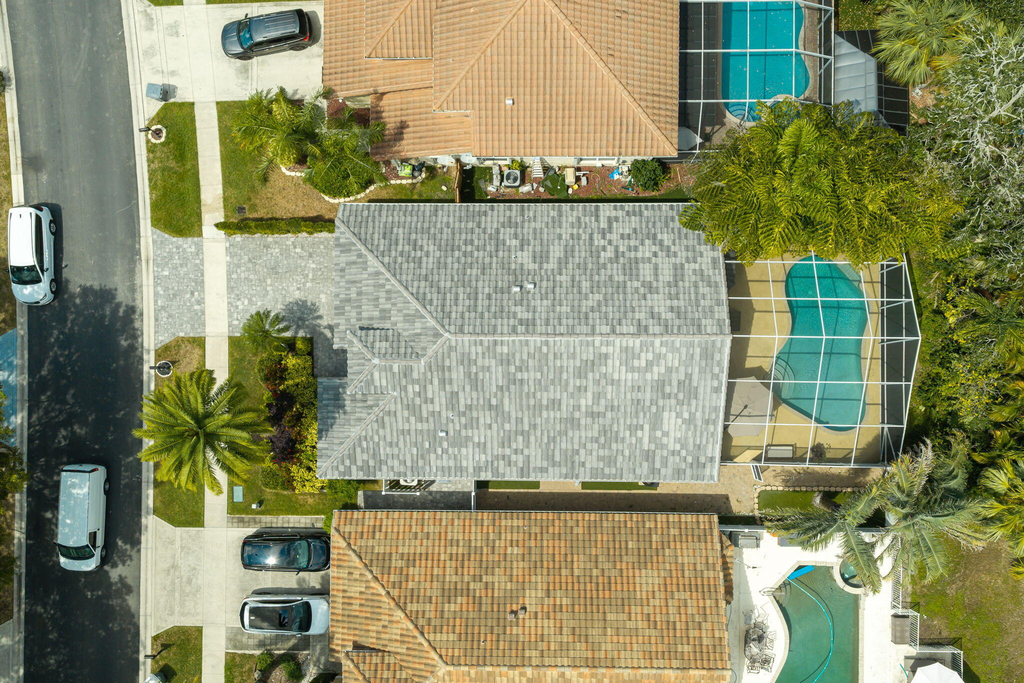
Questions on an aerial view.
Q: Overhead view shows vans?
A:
Yes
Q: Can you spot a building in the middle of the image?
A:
Yes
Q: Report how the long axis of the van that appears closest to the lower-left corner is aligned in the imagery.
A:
from top to bottom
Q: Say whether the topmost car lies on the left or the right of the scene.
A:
left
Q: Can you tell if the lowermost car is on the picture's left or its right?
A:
left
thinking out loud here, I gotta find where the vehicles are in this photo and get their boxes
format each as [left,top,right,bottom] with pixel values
[5,205,55,304]
[239,532,328,575]
[52,465,107,572]
[237,593,328,637]
[222,9,316,60]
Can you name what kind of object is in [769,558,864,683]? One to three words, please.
swimming pool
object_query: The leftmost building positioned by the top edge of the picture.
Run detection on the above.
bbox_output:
[321,0,681,166]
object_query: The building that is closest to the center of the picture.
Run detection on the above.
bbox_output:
[316,201,733,482]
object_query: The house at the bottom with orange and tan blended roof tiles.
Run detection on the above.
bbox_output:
[327,509,735,683]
